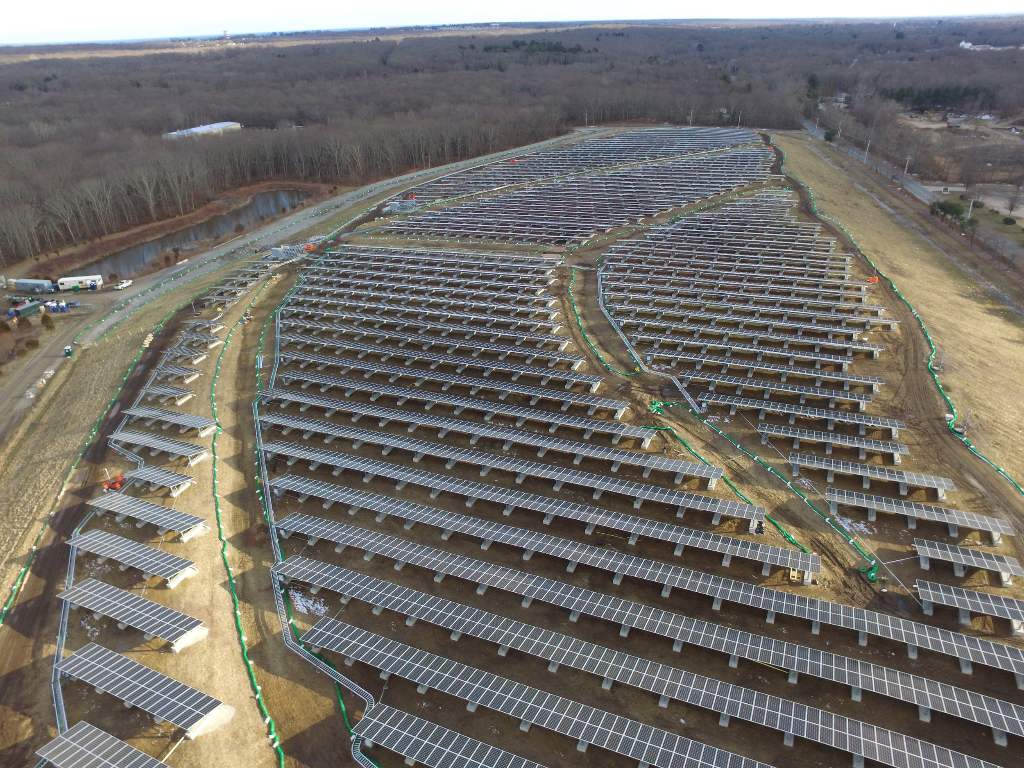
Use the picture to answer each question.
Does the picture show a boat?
No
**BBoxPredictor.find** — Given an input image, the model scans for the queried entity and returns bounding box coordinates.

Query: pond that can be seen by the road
[72,190,311,283]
